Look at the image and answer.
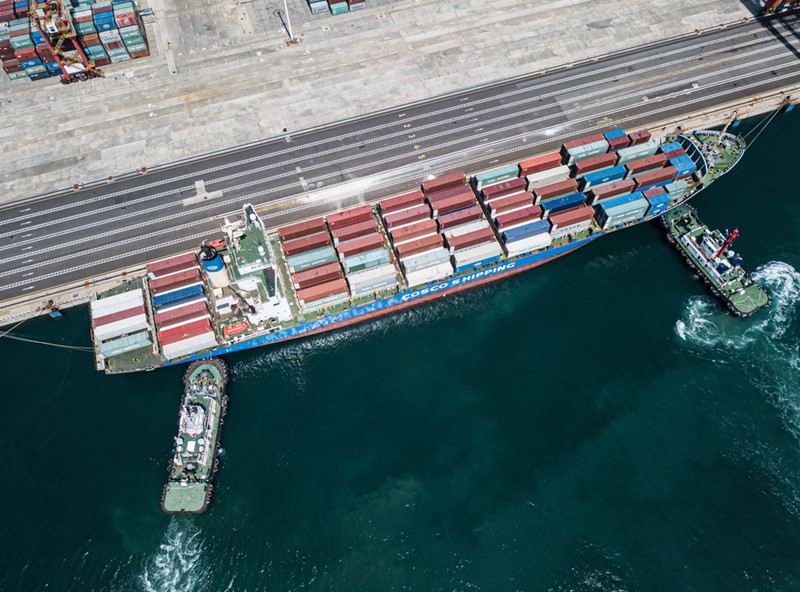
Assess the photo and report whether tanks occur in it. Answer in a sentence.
No, I can't see a single tank in this photo.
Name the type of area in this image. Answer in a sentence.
What you see here is a port.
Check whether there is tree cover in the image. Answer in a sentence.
No, the picture contains no tree cover.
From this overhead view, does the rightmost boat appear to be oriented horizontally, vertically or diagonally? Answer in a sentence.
In this picture, the rightmost boat lies diagonally.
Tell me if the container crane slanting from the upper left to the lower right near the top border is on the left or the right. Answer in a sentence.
It is on the left.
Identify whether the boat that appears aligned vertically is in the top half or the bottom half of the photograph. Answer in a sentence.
The boat that appears aligned vertically sits in the bottom half of the picture.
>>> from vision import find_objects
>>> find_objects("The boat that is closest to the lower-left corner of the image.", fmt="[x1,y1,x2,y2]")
[158,358,228,517]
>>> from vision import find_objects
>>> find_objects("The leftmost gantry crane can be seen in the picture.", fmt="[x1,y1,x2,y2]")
[25,0,100,82]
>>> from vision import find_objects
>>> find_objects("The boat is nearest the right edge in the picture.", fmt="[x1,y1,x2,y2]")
[663,202,774,320]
